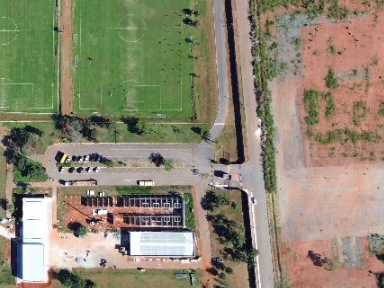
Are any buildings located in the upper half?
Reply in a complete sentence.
No, I can find no building in the upper half.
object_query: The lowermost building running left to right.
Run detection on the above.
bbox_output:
[129,230,194,256]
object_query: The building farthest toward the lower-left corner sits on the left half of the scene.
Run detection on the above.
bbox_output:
[22,242,44,281]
